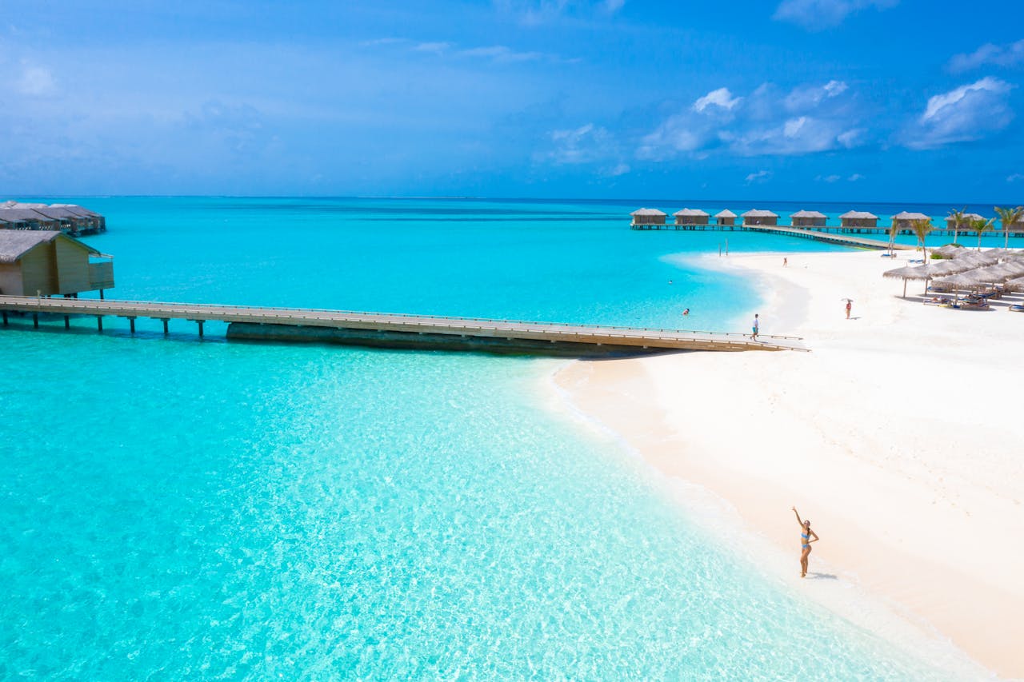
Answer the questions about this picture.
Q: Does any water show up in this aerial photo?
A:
Yes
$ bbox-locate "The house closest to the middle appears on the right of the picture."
[628,209,669,231]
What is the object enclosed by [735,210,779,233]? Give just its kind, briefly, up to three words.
house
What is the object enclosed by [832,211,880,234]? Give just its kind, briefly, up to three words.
house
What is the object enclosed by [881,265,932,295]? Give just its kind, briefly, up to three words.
umbrella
